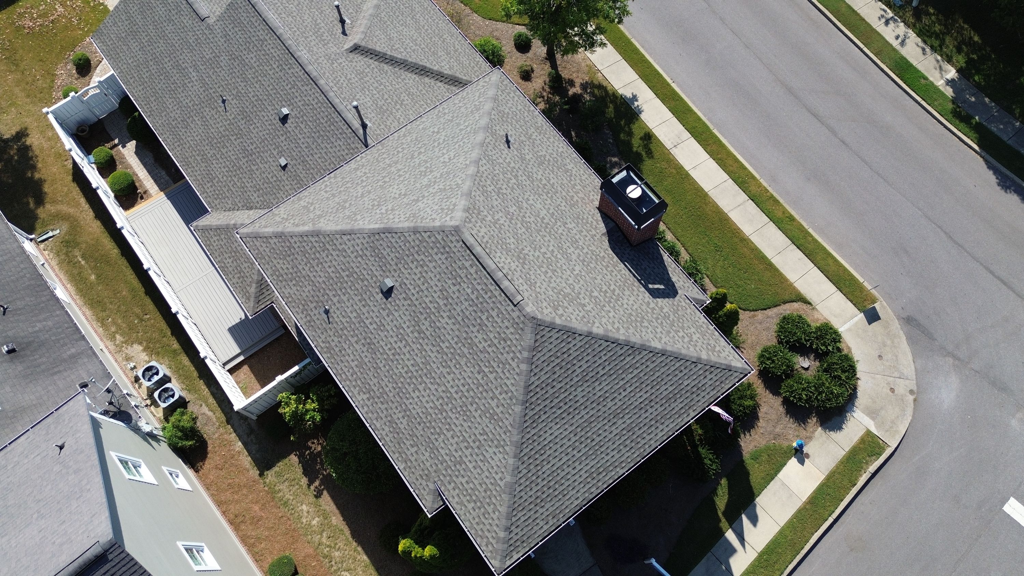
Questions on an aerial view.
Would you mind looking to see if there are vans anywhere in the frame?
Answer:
No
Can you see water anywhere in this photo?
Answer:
No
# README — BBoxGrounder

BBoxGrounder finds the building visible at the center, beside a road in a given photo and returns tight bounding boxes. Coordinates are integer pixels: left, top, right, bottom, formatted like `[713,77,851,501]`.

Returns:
[92,0,753,574]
